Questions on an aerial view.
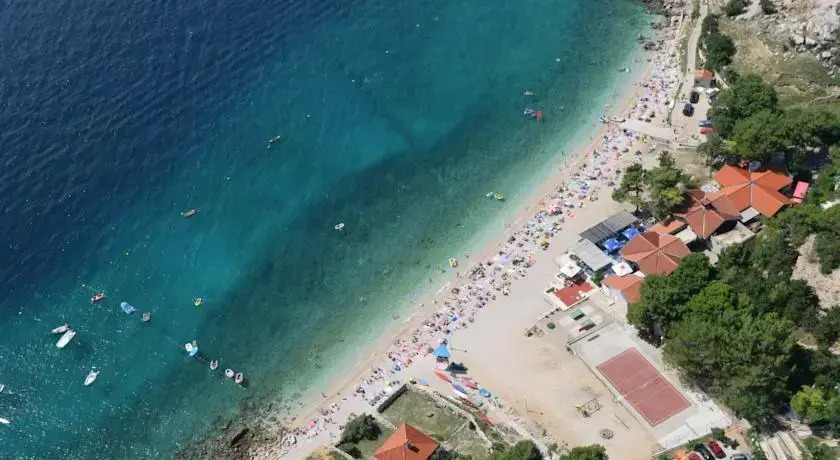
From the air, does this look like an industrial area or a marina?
marina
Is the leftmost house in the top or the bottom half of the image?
bottom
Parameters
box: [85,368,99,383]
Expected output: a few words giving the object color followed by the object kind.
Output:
white boat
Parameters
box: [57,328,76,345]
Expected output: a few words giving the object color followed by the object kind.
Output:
white boat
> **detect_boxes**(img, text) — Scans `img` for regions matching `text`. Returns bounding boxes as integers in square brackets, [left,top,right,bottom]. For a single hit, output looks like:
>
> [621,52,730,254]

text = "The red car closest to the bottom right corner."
[707,440,728,459]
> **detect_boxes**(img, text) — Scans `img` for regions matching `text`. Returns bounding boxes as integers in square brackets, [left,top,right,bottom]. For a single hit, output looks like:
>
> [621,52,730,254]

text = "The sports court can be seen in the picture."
[568,322,731,451]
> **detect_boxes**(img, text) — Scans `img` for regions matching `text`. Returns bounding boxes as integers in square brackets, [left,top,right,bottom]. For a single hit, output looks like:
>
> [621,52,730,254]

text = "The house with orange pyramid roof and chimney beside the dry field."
[373,422,442,460]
